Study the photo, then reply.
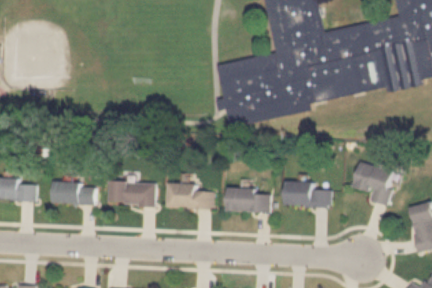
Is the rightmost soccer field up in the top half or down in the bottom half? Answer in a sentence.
Seen from above, the rightmost soccer field lies in the top half of the view.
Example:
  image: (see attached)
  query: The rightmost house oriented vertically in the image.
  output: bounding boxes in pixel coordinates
[408,200,432,256]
